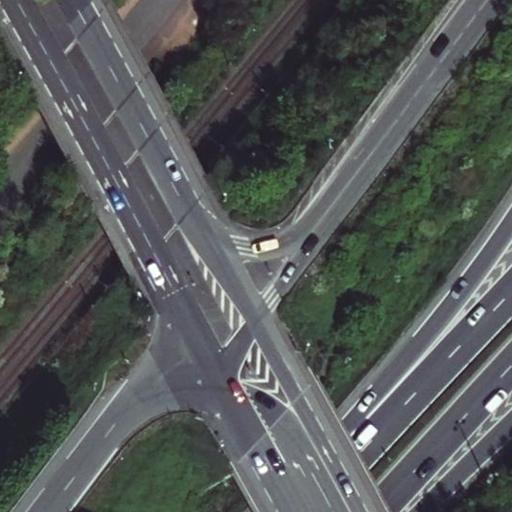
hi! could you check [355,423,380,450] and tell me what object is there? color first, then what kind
white vehicle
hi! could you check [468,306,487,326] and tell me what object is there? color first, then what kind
white car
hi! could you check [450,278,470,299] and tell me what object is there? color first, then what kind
gray car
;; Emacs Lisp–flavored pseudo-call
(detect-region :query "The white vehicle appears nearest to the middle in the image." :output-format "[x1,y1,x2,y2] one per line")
[252,238,280,254]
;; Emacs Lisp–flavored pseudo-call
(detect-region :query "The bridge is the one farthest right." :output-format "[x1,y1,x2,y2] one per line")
[201,308,388,512]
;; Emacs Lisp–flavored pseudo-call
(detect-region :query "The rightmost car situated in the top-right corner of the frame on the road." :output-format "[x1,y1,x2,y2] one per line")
[430,35,449,56]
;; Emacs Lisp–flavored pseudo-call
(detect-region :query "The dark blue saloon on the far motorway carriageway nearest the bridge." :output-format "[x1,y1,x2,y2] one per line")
[416,457,436,478]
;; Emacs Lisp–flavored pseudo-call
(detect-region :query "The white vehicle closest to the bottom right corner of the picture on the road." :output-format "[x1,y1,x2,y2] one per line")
[486,390,508,412]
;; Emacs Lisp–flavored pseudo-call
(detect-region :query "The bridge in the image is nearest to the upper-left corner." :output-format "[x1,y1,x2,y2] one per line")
[0,0,222,292]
